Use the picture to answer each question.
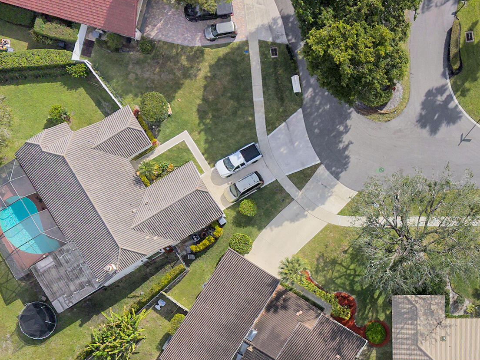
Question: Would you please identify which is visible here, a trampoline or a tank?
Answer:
trampoline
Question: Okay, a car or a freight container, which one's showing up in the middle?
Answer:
car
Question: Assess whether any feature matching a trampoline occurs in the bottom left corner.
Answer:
Yes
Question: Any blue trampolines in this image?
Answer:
No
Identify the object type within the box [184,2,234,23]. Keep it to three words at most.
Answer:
vehicle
